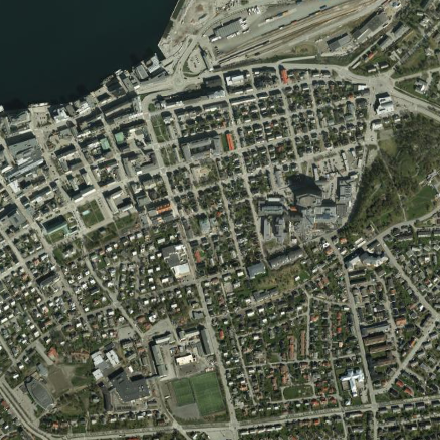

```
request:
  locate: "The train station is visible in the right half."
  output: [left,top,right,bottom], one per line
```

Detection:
[208,0,385,70]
